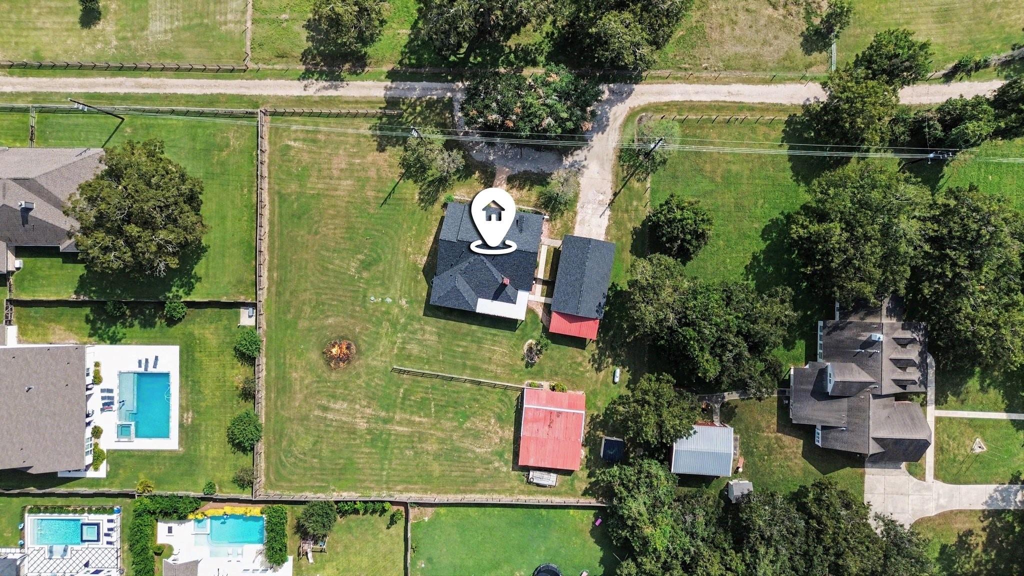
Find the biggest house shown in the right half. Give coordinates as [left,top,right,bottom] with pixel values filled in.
[788,283,931,461]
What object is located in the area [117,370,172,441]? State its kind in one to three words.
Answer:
swimming pool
